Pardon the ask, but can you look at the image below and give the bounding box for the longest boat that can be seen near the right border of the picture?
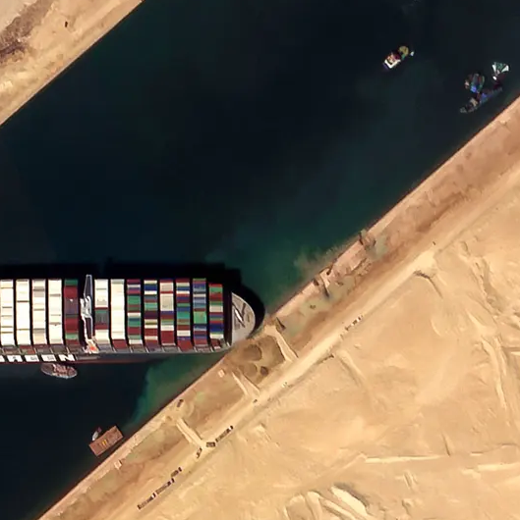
[459,84,505,113]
